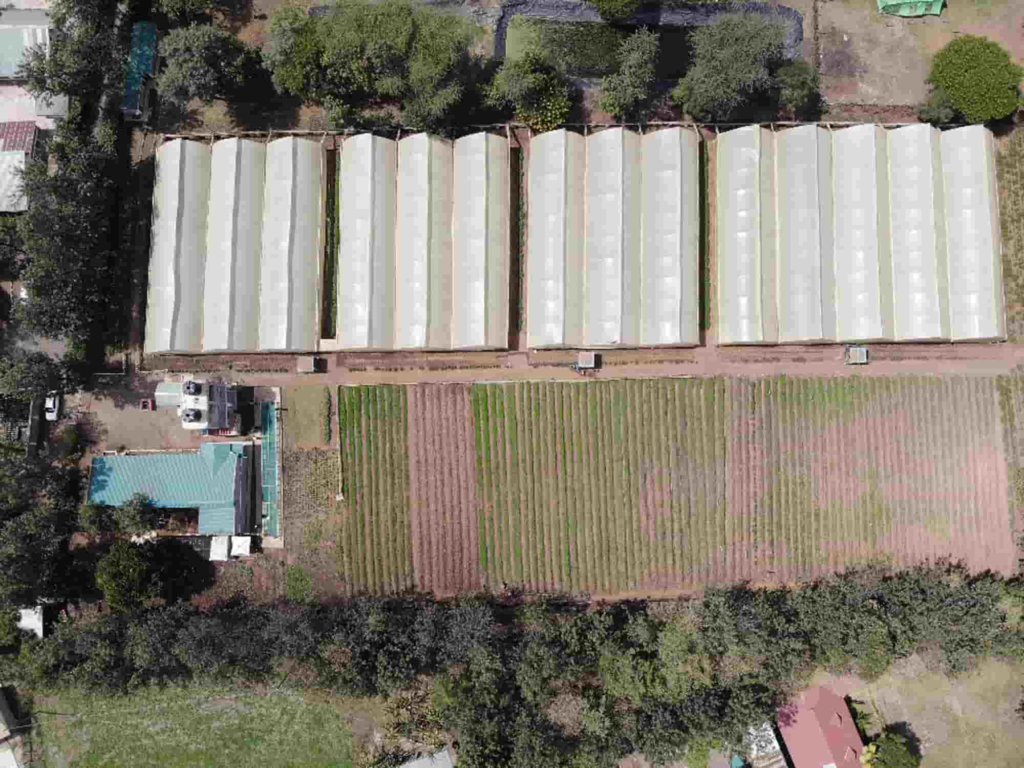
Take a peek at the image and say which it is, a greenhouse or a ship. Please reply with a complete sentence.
Looking from above, you can make out a greenhouse.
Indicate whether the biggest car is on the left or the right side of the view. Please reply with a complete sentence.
The biggest car sits on the left side.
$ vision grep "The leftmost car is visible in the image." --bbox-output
[43,391,63,422]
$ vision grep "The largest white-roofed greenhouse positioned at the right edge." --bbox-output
[711,125,1008,346]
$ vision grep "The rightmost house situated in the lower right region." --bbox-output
[774,689,872,768]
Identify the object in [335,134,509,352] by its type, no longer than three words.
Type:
greenhouse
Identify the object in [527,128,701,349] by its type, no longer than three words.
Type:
greenhouse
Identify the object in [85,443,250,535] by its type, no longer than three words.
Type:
house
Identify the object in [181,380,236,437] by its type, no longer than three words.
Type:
house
